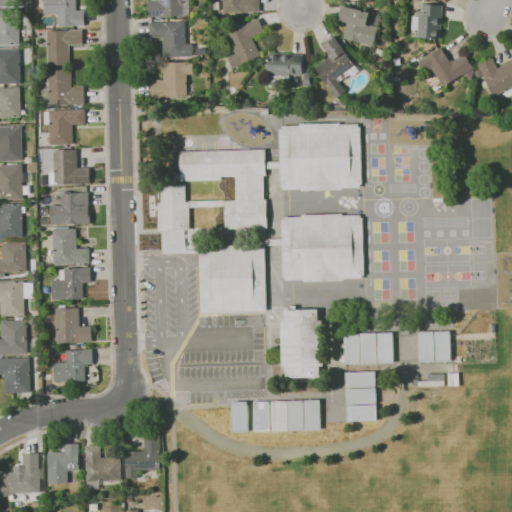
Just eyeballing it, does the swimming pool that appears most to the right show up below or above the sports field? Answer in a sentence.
The swimming pool that appears most to the right is found above the sports field in the photo.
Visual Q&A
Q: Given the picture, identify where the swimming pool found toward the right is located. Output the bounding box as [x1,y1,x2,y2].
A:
[343,70,370,96]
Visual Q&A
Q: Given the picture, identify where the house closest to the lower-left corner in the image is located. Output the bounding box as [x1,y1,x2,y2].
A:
[5,454,39,494]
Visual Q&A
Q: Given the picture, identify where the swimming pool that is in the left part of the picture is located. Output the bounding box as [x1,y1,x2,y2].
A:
[40,16,57,29]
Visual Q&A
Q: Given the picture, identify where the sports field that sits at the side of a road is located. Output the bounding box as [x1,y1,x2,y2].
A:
[176,108,512,512]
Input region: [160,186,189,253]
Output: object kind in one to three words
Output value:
building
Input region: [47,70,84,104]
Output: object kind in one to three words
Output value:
house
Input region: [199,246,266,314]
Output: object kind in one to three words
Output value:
building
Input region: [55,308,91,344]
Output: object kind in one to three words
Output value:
house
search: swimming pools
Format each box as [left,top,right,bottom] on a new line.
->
[343,70,370,96]
[40,16,57,29]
